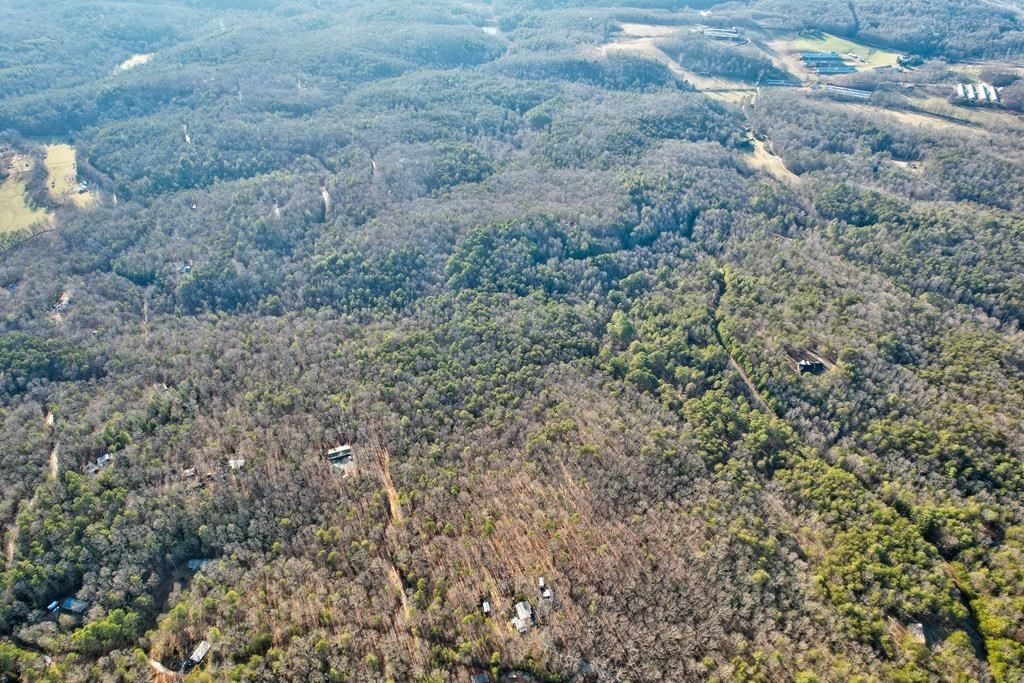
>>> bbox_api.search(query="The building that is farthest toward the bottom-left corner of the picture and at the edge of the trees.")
[56,594,88,615]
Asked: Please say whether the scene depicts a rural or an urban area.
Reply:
rural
